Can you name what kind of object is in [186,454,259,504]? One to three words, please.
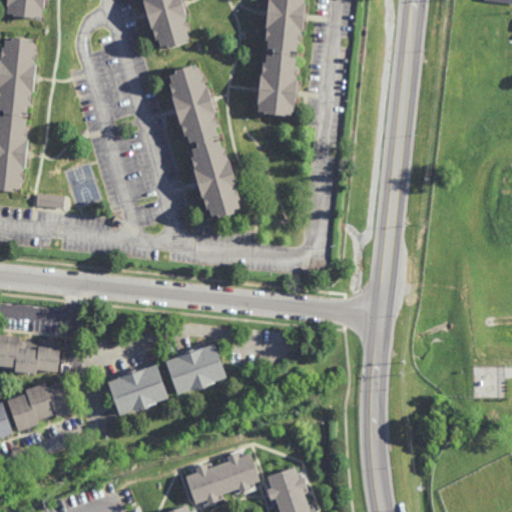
house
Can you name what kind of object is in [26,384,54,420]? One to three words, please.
house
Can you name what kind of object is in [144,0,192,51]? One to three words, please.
building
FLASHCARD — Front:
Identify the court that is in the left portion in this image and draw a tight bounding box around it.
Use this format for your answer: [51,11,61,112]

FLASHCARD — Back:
[66,164,102,206]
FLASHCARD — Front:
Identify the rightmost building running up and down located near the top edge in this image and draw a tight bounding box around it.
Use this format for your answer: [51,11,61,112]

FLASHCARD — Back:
[257,0,306,117]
